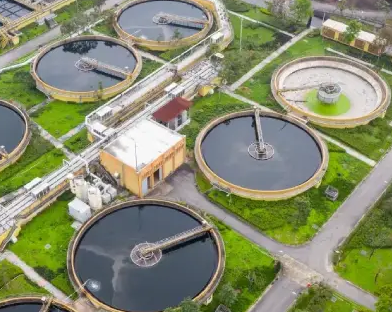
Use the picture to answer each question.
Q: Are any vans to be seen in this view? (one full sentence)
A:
No, no van is visible in the view.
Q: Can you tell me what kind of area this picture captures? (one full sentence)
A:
The area seen from above is an industrial area.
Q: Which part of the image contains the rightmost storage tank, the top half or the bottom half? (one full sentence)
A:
You can find the rightmost storage tank in the top half.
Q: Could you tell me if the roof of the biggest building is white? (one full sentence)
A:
Yes, the roof of the biggest building appears white.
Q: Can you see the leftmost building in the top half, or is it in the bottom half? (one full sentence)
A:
The leftmost building sits in the bottom half of the picture.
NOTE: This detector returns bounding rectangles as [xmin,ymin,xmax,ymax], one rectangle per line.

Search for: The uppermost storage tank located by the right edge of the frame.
[269,56,390,129]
